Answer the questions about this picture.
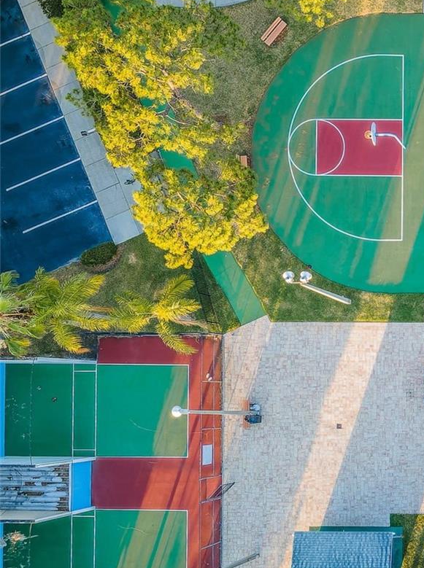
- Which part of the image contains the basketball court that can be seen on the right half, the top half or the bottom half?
top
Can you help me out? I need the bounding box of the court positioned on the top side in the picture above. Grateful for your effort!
[251,11,424,294]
